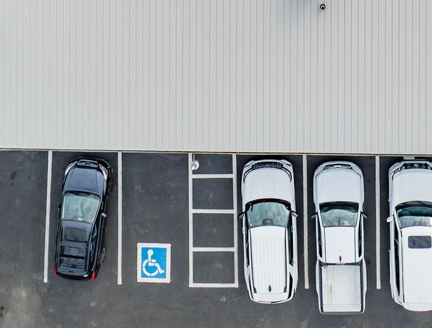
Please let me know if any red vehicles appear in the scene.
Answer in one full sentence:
No, I find no red vehicle anywhere in the image.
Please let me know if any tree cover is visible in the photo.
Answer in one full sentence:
No, there's no tree cover in this view.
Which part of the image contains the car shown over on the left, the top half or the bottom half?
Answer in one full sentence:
Seen from above, the car shown over on the left lies in the bottom half of the view.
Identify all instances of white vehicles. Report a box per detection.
[308,160,371,319]
[385,158,432,308]
[235,160,302,305]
